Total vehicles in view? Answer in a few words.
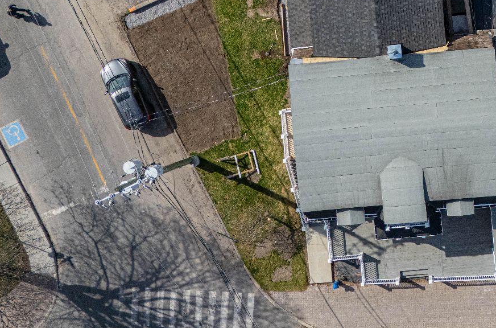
1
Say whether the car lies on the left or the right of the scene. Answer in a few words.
left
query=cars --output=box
[101,54,156,134]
